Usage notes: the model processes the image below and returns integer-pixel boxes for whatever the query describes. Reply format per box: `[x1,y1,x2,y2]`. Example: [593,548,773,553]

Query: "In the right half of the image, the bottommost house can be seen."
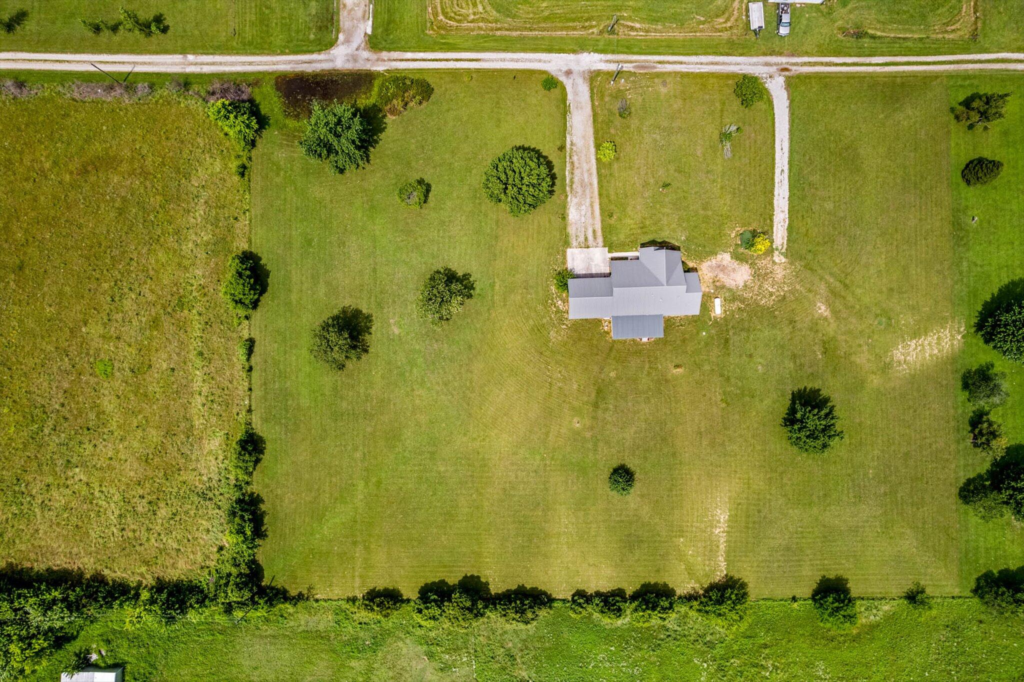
[568,246,702,342]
